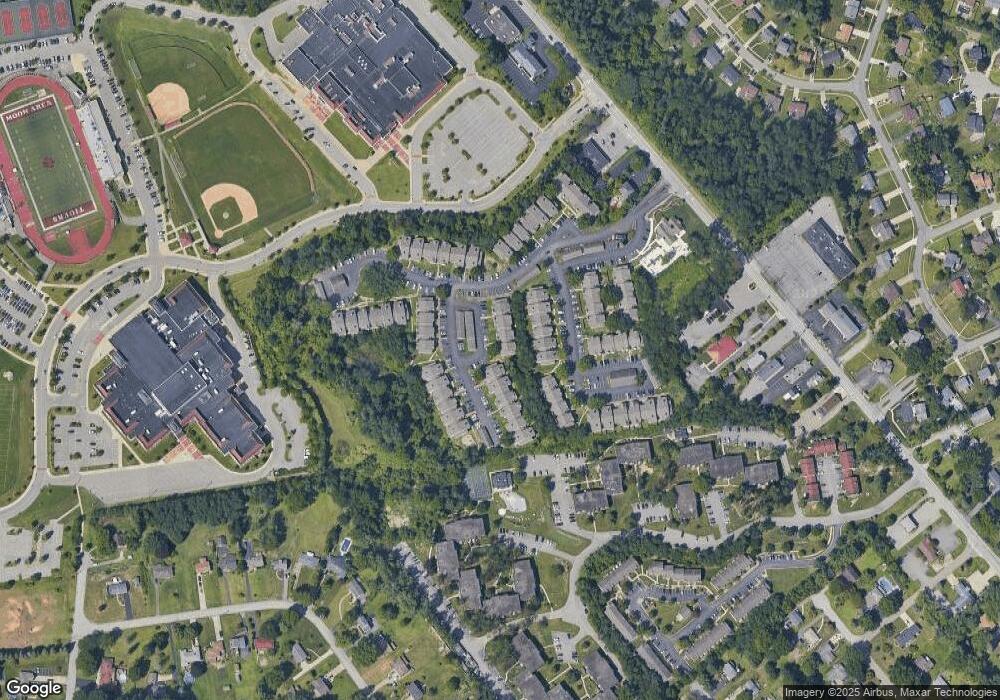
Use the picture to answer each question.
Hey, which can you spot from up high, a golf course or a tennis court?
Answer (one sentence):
Of the two, only a tennis court appears.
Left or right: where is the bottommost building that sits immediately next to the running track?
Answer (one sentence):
The bottommost building that sits immediately next to the running track appears in the left half of the scene.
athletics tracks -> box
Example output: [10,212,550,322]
[0,76,114,263]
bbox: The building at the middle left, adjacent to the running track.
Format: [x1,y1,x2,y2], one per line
[95,280,265,464]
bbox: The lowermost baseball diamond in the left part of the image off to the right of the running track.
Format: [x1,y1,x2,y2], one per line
[176,103,316,246]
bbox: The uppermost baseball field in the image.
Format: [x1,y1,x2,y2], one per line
[129,34,229,130]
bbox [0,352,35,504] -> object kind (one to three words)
sports field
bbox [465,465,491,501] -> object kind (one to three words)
tennis court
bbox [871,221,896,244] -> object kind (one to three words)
house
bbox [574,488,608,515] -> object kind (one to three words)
building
